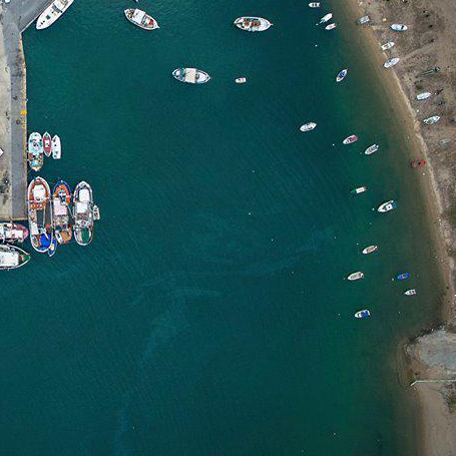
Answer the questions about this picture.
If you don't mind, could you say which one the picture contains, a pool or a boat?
boat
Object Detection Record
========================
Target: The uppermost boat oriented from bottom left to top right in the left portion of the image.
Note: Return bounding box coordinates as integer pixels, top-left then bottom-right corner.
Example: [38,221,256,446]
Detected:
[37,0,73,29]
